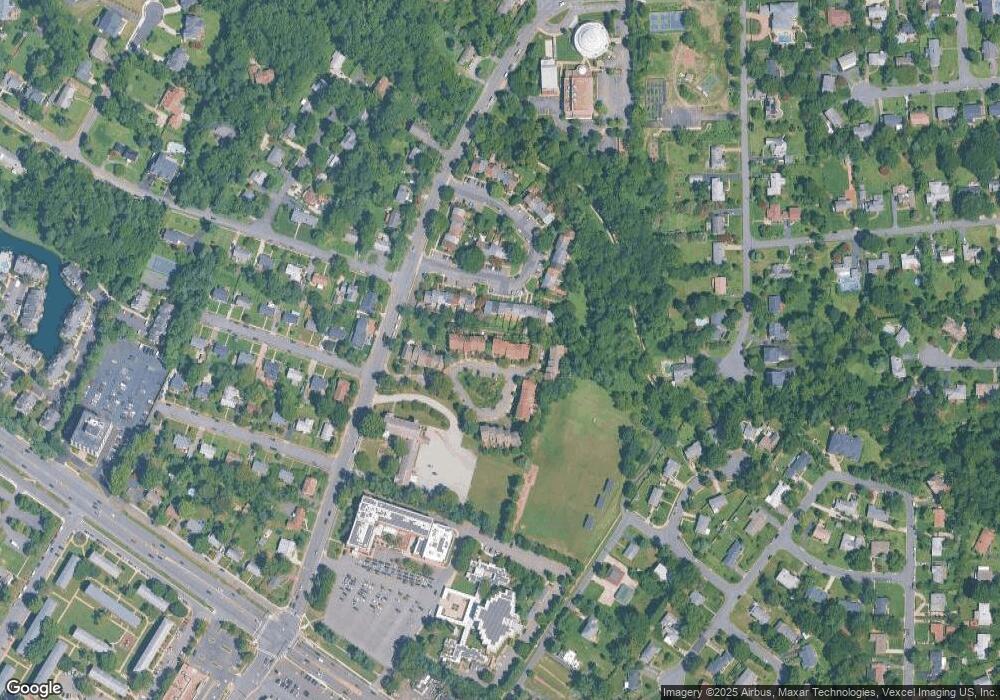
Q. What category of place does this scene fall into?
residential area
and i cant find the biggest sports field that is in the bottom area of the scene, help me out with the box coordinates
[513,378,624,561]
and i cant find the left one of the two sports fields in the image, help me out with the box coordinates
[466,455,521,526]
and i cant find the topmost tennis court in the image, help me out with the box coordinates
[650,11,685,32]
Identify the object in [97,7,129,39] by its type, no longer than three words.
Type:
house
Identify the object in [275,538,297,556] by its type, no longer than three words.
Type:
house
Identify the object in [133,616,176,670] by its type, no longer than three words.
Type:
building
